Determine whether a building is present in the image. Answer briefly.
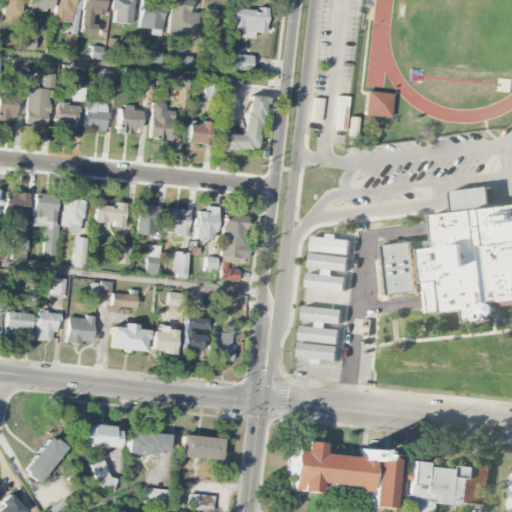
Yes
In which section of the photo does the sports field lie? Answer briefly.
top right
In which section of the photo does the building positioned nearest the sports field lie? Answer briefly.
top right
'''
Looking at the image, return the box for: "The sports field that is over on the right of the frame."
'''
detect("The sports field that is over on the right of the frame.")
[392,0,512,109]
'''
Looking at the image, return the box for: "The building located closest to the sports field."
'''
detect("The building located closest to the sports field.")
[366,92,396,118]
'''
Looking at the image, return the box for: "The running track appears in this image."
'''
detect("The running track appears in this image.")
[366,0,512,124]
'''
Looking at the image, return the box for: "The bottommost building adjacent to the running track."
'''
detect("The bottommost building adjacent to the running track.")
[412,187,512,322]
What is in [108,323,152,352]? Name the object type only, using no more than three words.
house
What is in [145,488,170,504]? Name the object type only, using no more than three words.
building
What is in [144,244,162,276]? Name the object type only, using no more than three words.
building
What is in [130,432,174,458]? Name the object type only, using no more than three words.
house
